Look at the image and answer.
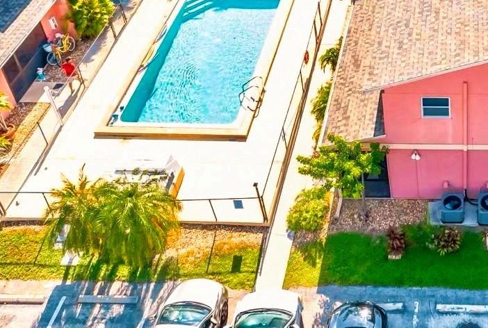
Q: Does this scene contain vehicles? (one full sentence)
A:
Yes, there's a vehicle down there.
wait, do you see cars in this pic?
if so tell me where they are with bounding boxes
[320,297,400,328]
[225,288,309,328]
[135,281,227,328]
